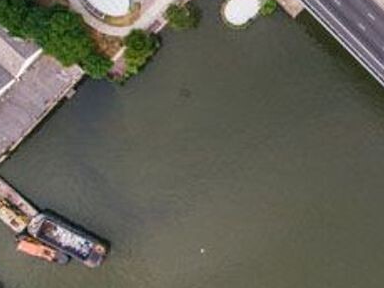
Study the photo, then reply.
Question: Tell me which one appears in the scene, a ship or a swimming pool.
ship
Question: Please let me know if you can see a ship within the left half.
Yes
